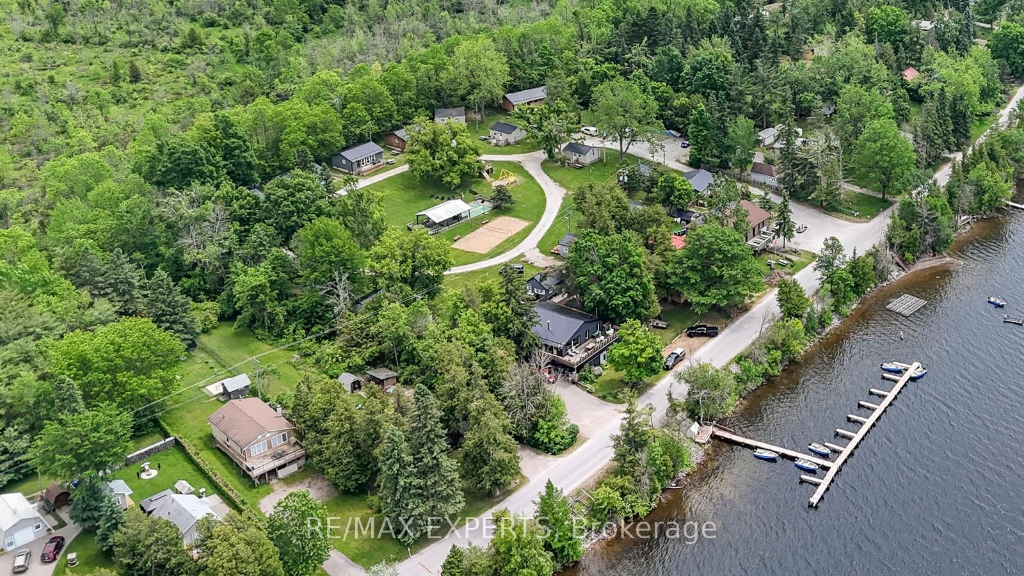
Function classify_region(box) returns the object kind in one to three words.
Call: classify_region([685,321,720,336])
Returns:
vehicle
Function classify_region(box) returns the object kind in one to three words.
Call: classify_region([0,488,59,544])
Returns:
building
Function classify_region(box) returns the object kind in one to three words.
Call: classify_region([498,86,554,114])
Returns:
house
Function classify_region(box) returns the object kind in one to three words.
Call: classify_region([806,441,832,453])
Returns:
boat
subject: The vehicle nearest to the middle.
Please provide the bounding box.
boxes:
[504,259,535,274]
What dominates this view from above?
trees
